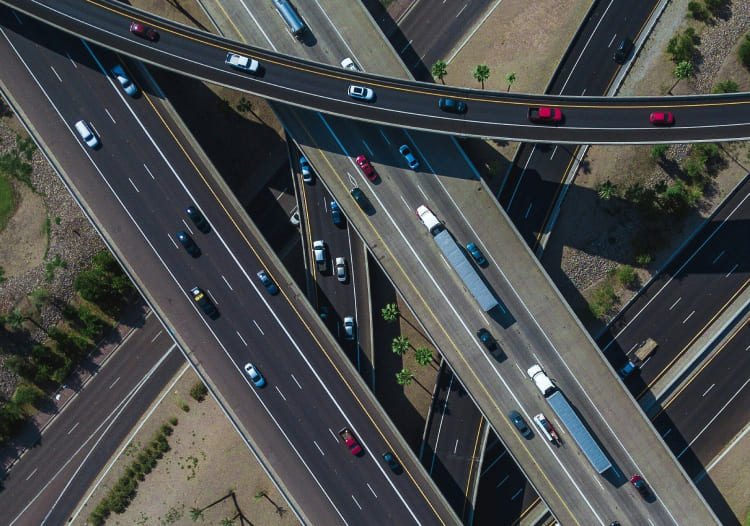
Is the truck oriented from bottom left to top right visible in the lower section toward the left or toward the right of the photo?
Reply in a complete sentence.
The truck oriented from bottom left to top right visible in the lower section is on the right side of the image.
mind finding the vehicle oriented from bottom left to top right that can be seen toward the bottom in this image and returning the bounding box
[616,337,656,380]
